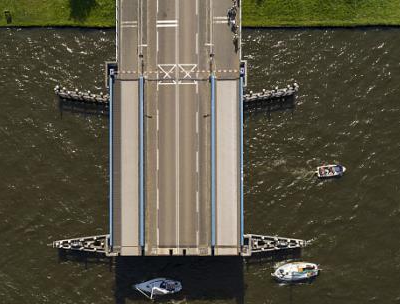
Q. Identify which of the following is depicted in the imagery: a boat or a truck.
boat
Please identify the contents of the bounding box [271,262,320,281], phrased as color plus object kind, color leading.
white boat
